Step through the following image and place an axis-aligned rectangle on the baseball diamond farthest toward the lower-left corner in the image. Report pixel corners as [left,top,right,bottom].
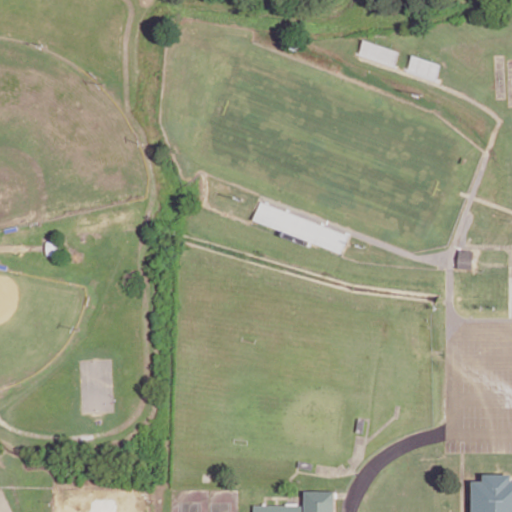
[0,271,86,390]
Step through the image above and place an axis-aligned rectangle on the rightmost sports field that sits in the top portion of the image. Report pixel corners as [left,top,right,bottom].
[165,25,480,250]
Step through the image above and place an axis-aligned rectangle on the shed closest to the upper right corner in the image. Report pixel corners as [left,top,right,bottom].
[407,56,442,81]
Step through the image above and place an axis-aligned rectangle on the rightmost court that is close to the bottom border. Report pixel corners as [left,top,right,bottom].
[209,490,238,512]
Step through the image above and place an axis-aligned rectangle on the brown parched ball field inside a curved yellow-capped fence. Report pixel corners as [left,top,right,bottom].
[0,38,148,228]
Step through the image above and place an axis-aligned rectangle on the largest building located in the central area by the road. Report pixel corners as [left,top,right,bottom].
[252,202,350,254]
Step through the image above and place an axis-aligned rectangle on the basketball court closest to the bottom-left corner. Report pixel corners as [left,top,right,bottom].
[80,359,114,416]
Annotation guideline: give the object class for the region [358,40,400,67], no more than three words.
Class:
shed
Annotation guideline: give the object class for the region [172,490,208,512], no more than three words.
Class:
tennis court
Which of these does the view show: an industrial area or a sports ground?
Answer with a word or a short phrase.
sports ground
